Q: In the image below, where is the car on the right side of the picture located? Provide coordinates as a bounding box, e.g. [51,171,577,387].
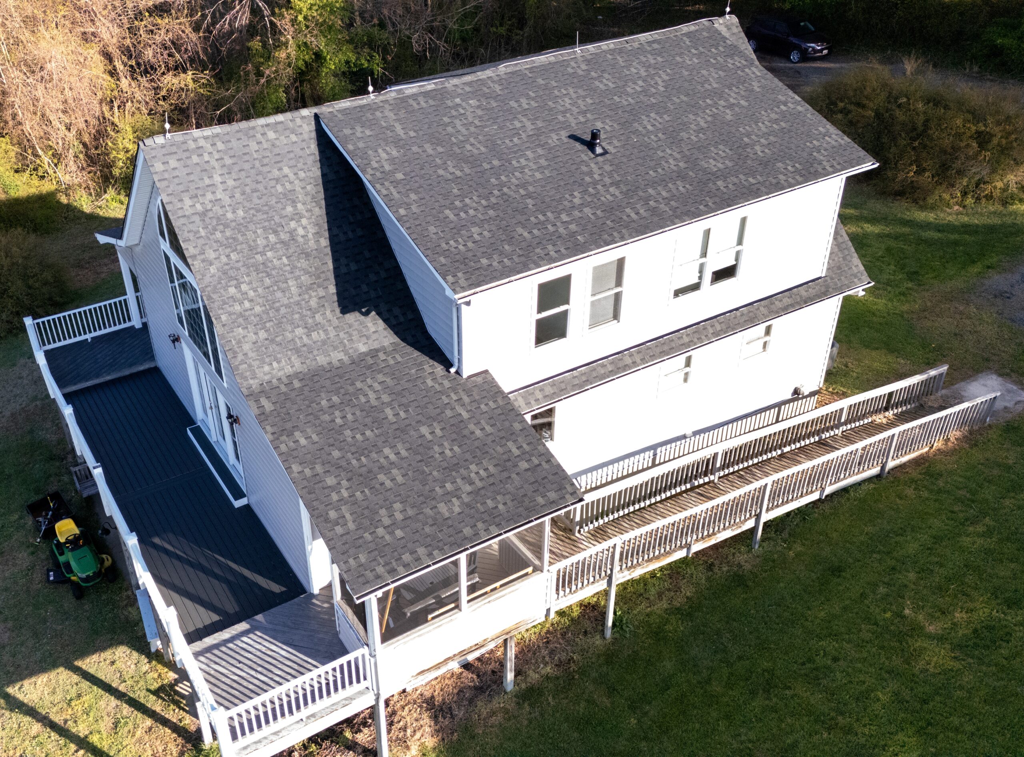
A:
[747,13,836,63]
